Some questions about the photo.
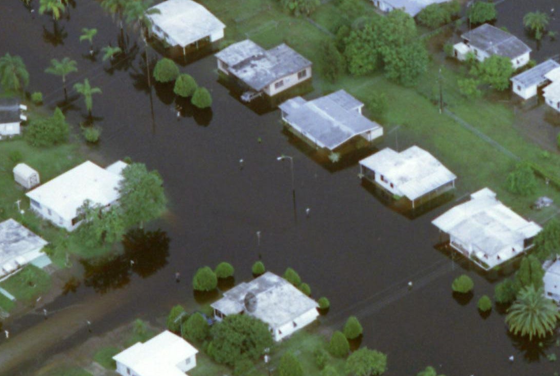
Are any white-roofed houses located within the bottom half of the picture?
Yes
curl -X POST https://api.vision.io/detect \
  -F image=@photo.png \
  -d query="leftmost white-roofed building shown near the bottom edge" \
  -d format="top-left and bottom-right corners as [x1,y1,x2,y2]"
[111,328,197,376]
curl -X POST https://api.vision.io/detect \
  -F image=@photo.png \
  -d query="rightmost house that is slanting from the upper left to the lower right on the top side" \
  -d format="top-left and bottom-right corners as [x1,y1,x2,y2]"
[467,21,530,72]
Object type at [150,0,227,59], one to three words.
house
